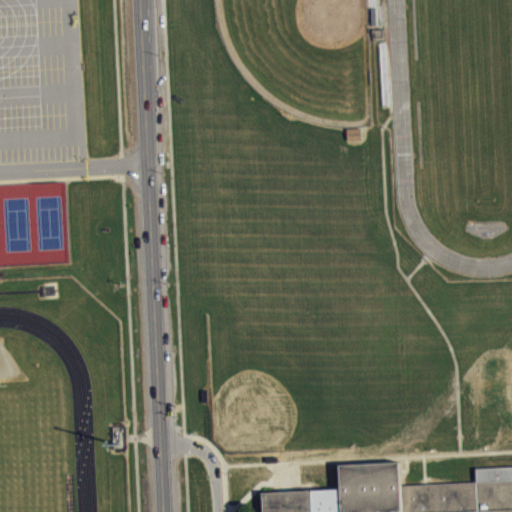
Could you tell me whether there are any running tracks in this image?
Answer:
Yes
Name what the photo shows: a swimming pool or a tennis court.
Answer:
tennis court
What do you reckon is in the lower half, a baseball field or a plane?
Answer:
baseball field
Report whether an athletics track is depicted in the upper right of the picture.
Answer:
Yes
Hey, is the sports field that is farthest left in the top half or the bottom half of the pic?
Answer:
bottom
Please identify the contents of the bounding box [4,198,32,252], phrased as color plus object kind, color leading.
blue tennis court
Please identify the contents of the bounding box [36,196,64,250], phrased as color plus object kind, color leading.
blue tennis court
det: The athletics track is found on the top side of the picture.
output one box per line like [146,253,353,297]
[388,0,512,278]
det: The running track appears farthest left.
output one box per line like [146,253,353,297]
[0,308,97,512]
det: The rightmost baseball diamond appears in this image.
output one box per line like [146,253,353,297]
[462,348,512,460]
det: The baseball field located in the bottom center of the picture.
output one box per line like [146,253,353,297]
[212,368,298,454]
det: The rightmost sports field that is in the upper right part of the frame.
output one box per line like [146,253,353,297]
[405,0,512,258]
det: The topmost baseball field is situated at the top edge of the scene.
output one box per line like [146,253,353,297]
[214,0,369,128]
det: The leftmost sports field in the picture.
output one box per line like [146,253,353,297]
[0,330,78,512]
